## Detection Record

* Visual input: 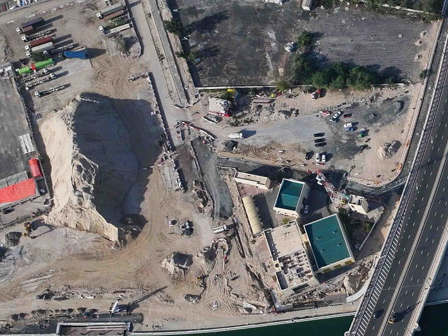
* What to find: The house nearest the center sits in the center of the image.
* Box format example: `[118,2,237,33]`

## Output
[235,172,270,188]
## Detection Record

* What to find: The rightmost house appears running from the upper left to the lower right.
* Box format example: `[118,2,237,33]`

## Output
[348,194,383,222]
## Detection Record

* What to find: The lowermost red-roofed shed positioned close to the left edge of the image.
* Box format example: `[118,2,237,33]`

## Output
[0,179,43,209]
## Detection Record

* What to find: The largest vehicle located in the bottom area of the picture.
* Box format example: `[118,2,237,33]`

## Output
[19,219,33,234]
